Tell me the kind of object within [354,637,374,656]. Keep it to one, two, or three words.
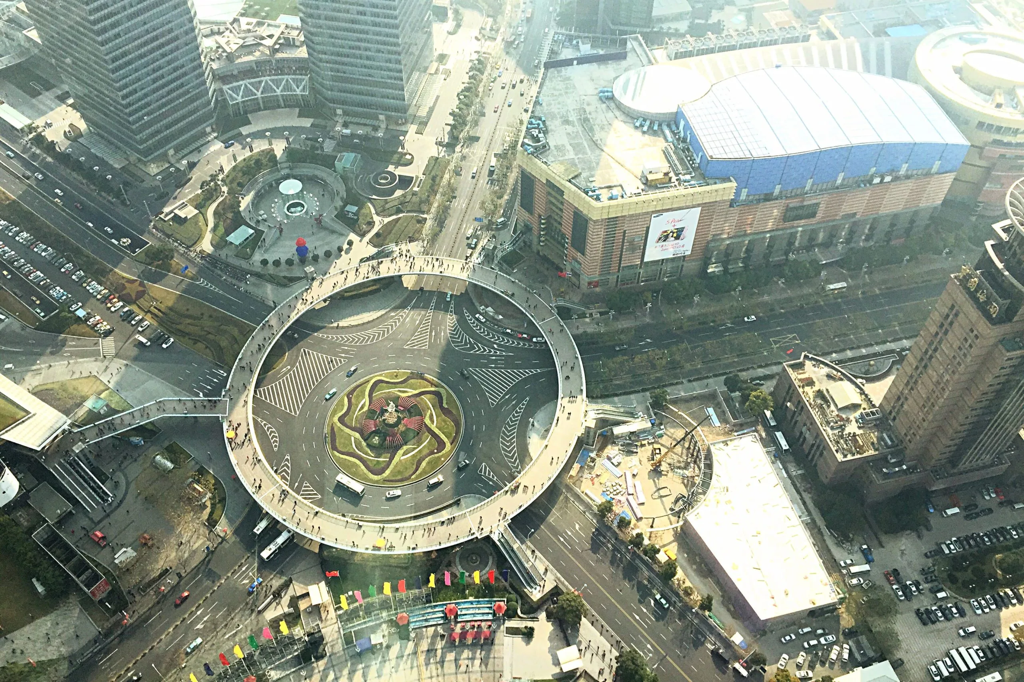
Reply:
tent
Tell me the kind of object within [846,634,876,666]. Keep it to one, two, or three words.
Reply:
shed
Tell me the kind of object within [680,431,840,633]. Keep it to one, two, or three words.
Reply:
shed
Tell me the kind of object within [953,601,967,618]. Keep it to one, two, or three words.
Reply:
car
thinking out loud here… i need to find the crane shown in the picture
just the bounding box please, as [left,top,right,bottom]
[644,414,713,470]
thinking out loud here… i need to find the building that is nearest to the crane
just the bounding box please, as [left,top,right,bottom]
[608,417,656,442]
